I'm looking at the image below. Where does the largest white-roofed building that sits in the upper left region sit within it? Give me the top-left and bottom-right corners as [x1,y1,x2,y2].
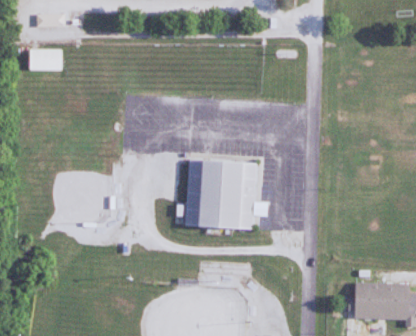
[28,48,62,72]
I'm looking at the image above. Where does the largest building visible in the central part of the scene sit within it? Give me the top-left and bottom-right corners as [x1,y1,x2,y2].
[175,160,270,229]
